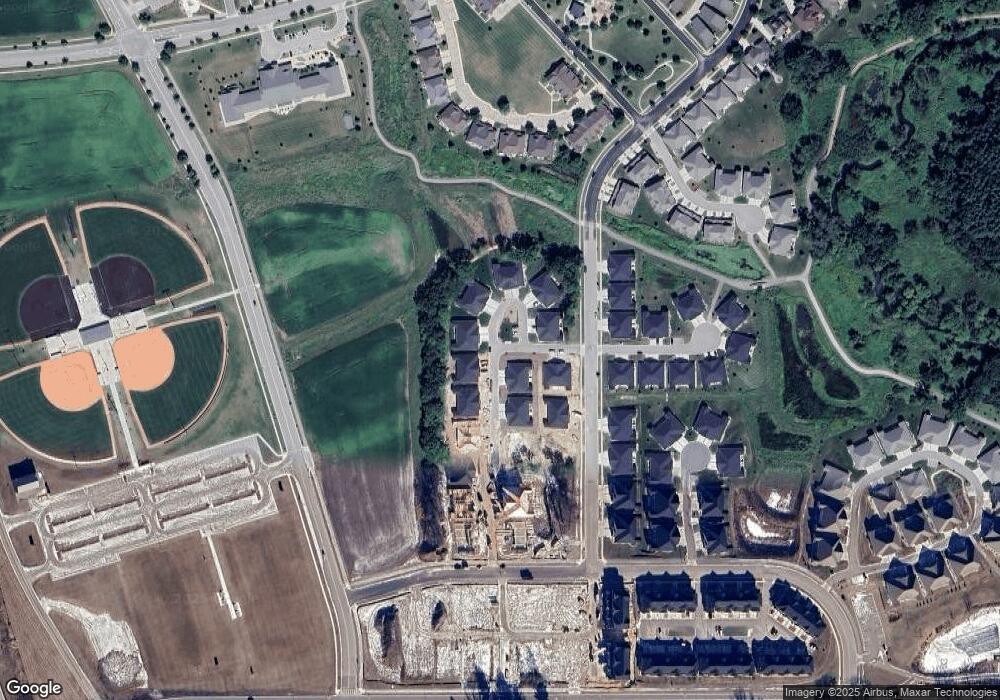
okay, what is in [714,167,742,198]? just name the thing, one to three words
house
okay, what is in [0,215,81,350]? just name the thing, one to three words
baseball field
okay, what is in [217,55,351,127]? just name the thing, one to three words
building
